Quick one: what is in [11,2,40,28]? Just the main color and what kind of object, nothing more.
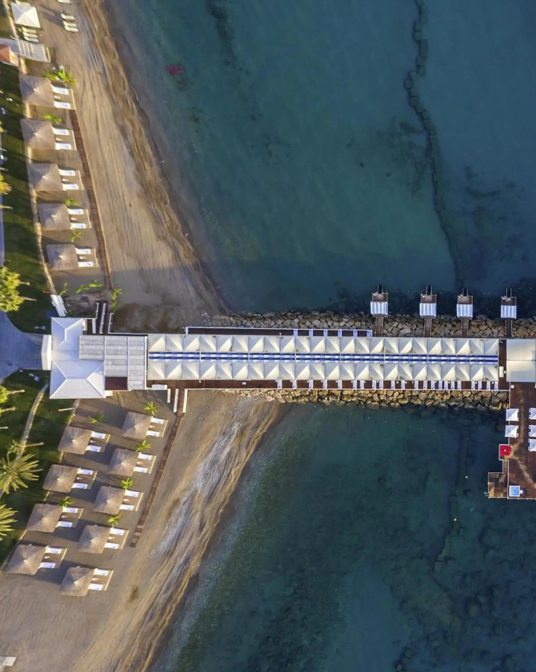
white umbrella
